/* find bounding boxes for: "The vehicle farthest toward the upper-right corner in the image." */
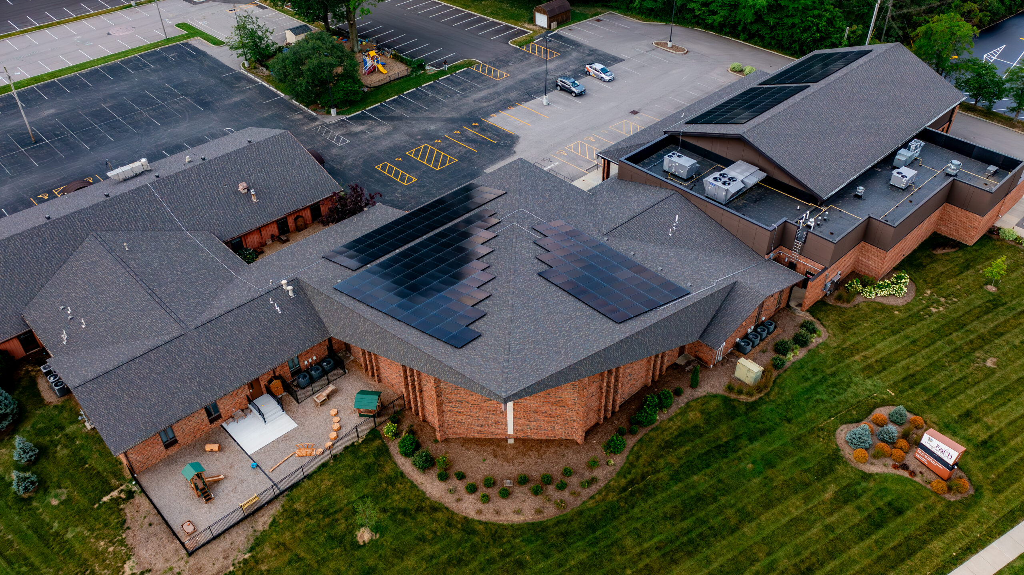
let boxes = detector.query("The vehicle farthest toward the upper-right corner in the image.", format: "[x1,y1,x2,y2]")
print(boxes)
[584,61,617,82]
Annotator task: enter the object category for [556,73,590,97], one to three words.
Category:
car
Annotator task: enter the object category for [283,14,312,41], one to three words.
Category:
shed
